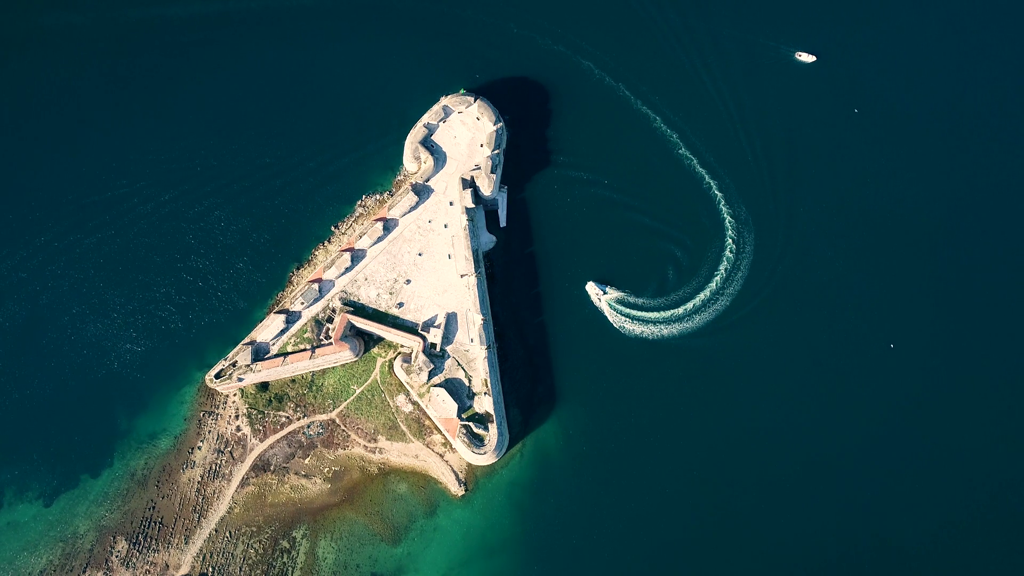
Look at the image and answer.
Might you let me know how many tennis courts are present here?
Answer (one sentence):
I count no tennis courts.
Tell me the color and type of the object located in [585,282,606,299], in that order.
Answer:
white boat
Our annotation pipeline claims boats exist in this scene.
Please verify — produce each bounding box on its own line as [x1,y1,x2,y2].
[794,51,817,61]
[585,282,606,299]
